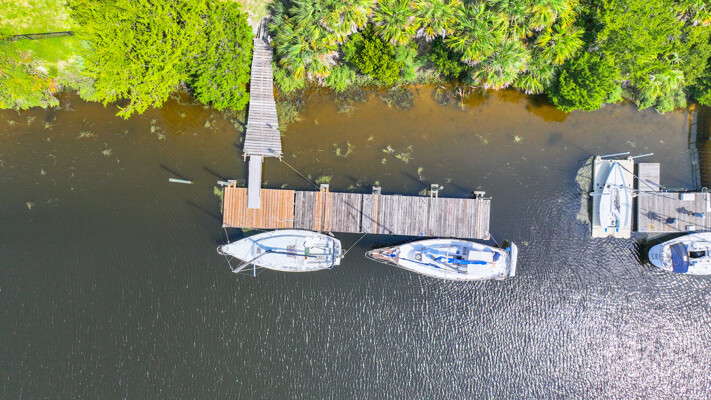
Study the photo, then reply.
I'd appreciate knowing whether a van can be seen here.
No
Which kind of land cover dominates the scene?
water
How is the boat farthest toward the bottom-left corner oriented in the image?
from side to side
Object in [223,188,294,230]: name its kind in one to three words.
pier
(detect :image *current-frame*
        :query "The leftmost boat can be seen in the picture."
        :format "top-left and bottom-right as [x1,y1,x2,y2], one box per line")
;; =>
[215,231,347,276]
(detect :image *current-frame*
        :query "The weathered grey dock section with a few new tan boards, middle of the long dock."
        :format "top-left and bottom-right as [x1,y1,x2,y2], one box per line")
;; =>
[295,191,360,233]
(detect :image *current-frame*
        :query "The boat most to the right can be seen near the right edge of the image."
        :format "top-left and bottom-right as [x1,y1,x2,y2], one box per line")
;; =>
[644,231,711,276]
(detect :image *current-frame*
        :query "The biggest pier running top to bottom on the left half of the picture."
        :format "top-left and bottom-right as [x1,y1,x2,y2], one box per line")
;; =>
[242,38,285,162]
